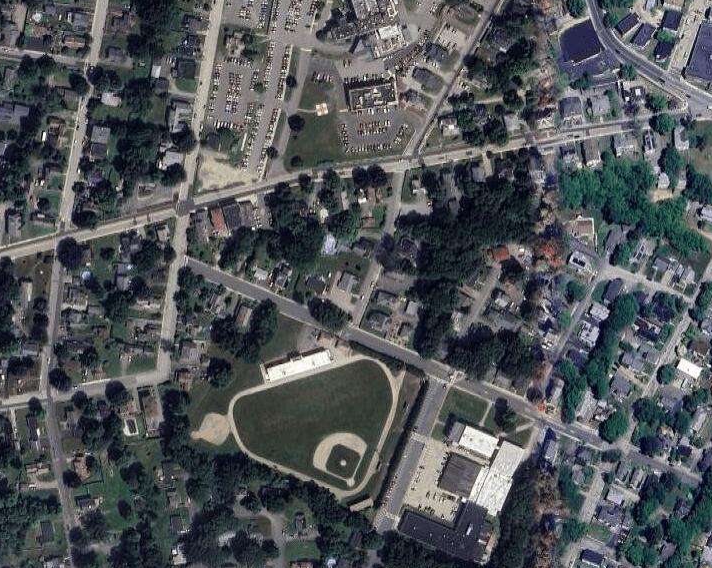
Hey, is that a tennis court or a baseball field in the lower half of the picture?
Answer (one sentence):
The feature located in the lower half of the picture is a baseball field.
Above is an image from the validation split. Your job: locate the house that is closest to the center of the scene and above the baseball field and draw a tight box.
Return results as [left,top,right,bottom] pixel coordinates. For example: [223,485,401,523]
[337,269,358,293]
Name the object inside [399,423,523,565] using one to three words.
building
